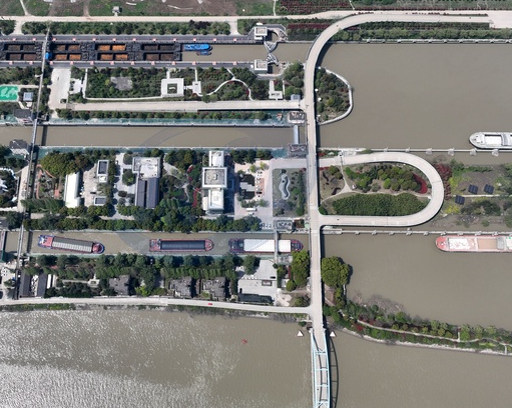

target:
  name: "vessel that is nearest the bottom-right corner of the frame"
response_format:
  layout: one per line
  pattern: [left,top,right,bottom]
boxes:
[435,235,512,253]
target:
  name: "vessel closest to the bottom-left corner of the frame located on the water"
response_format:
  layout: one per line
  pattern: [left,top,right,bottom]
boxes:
[38,234,105,253]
